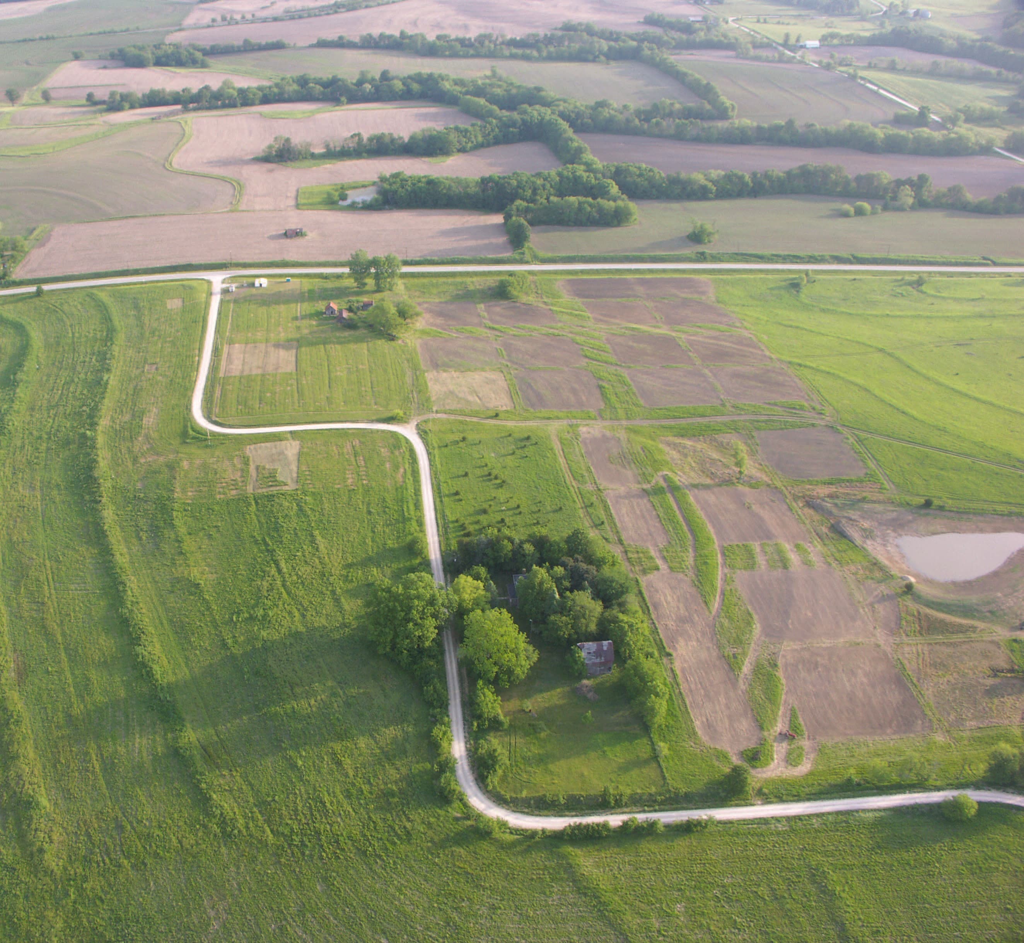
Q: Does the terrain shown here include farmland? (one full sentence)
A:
Yes, some farmland is visible.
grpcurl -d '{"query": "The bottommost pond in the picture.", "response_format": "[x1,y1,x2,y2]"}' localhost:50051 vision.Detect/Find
[897,535,1024,583]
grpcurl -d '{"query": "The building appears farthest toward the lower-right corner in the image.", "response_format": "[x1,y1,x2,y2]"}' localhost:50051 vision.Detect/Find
[572,639,612,675]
